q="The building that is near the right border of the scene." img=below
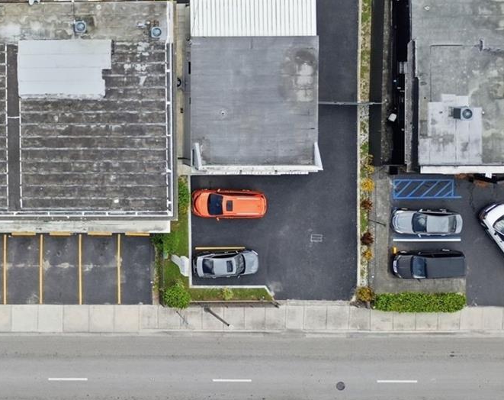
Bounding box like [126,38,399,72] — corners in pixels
[398,0,504,173]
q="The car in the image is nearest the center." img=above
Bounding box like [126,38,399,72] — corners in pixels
[191,189,268,221]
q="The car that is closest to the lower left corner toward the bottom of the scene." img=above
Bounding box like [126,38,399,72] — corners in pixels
[191,247,257,279]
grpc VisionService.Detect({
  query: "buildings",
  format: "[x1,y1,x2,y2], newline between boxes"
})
[183,0,324,173]
[0,1,178,233]
[398,0,504,173]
